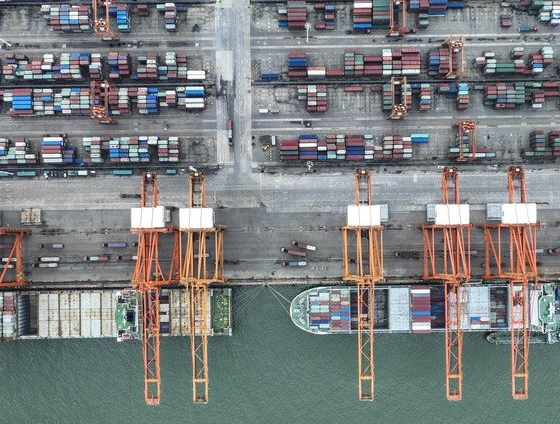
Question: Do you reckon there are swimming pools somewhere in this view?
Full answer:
No, I find no swimming pool anywhere in the image.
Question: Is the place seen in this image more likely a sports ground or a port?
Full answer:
The area seen from above is a port.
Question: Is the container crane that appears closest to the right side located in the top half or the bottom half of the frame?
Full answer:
Seen from above, the container crane that appears closest to the right side lies in the bottom half of the view.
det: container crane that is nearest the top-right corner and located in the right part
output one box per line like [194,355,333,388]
[439,36,466,84]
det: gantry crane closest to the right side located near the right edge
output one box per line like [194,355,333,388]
[476,166,542,401]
